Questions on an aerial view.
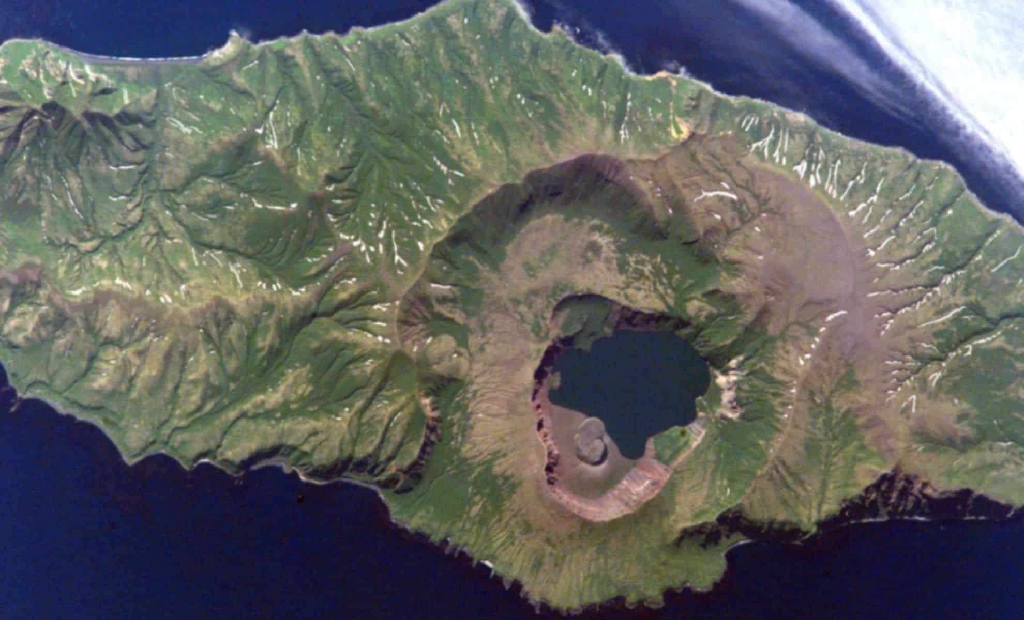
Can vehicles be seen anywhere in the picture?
No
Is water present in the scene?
Yes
